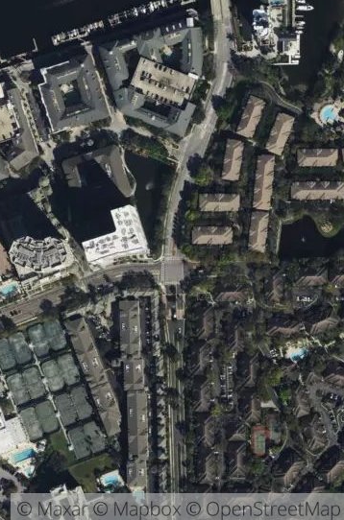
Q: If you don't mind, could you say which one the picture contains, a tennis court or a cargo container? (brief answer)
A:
tennis court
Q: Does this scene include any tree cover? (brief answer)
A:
Yes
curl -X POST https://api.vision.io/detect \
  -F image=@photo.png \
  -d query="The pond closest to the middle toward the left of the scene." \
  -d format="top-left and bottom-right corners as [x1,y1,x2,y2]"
[61,151,168,251]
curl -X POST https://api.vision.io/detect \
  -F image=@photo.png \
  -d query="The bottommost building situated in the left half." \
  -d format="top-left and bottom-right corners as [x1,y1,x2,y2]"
[53,486,87,520]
